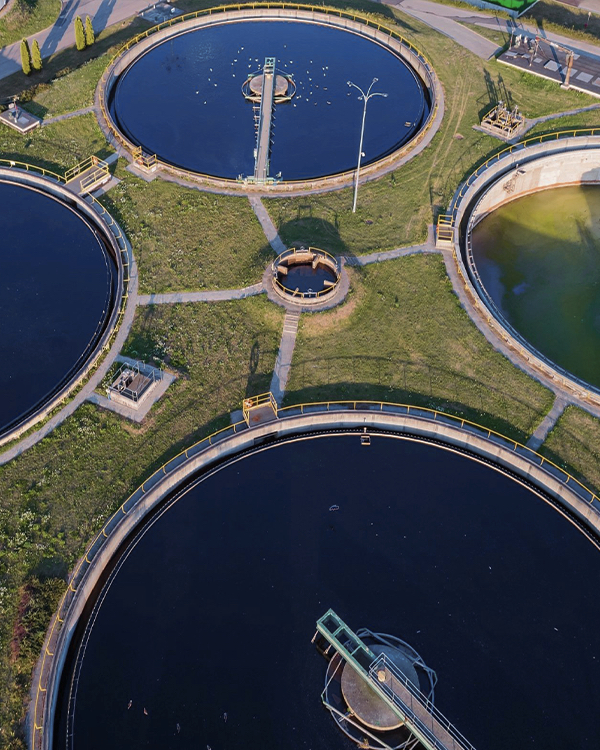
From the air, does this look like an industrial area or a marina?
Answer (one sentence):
The area seen from above is an industrial area.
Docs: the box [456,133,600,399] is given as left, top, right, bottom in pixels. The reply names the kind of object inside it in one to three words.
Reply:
storage tank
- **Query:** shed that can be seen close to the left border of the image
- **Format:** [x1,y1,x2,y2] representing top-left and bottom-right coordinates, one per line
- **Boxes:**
[0,93,41,135]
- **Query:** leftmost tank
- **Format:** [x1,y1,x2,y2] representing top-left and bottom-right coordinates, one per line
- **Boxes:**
[0,159,130,445]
